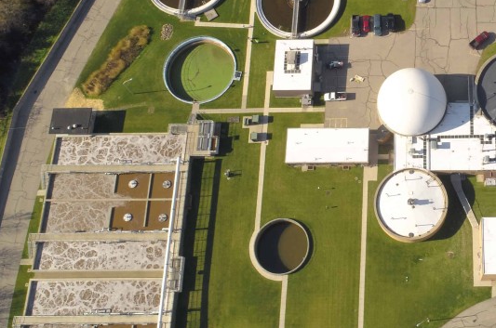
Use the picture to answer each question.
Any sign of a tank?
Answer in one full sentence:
Yes, looking at the shot, I can spot a tank.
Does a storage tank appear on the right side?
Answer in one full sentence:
Yes, you'll find a storage tank on the right side.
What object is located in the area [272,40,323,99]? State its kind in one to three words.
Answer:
building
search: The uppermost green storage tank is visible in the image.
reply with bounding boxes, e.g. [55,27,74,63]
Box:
[163,36,245,106]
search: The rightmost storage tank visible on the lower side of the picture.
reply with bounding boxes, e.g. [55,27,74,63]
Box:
[375,169,448,244]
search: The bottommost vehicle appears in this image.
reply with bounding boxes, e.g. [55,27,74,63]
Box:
[320,90,349,102]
